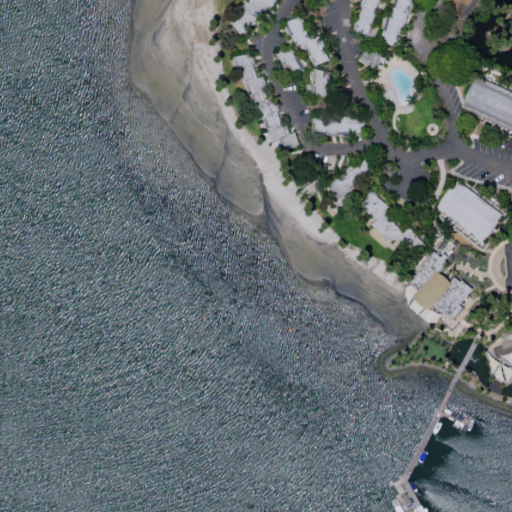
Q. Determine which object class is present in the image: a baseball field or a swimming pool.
swimming pool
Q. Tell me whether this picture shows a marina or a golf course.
marina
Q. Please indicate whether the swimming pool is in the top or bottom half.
top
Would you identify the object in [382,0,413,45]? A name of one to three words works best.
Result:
house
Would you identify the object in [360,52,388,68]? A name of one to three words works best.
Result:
building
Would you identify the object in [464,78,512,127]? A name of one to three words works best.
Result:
building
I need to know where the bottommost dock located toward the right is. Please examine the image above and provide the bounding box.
[390,480,425,512]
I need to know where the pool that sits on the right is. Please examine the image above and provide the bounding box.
[374,57,417,114]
